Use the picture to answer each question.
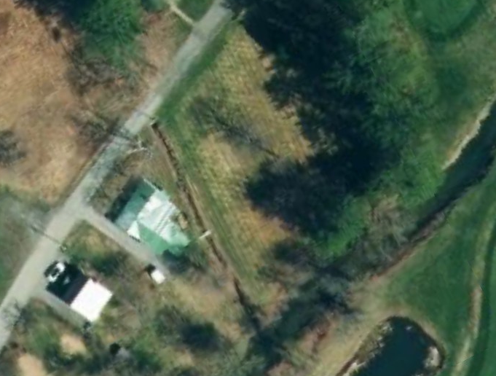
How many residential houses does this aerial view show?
2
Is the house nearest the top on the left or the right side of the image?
left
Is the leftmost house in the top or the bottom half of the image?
bottom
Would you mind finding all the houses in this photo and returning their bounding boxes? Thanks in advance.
[56,270,110,322]
[113,180,189,255]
